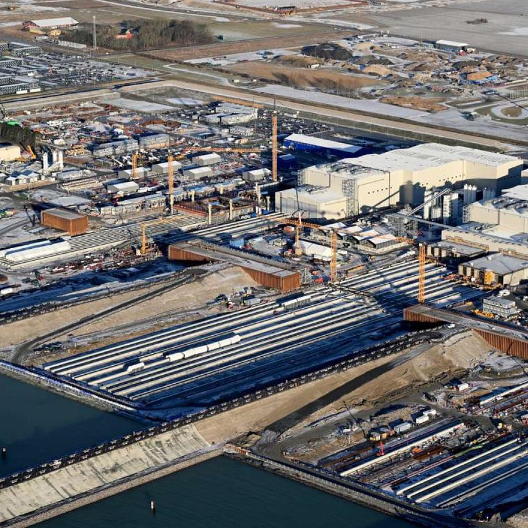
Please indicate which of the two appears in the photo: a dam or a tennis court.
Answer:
dam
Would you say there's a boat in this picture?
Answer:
No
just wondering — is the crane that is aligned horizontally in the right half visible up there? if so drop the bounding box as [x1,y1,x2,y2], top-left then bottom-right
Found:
[295,222,416,279]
